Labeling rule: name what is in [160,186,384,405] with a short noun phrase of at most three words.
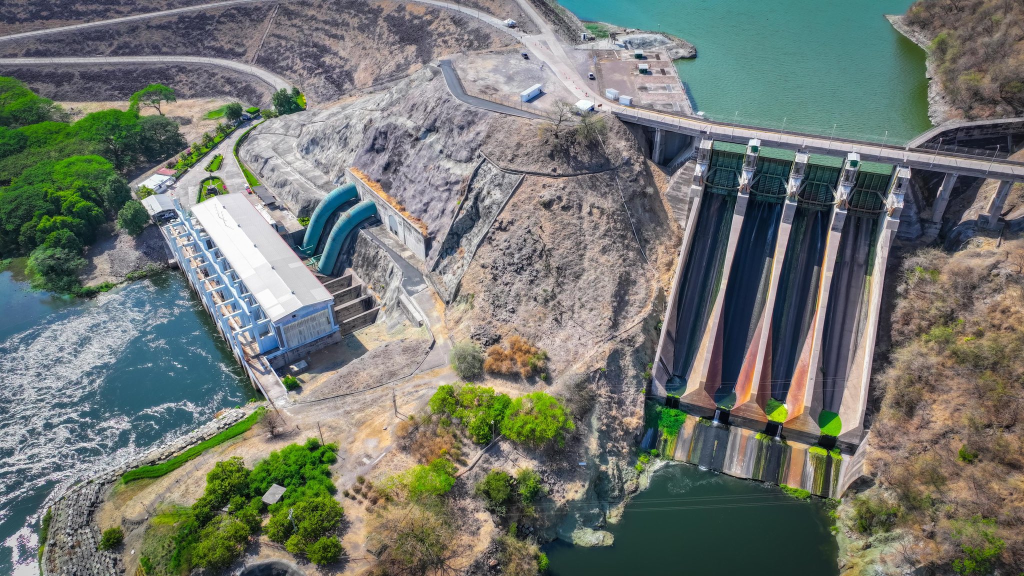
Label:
building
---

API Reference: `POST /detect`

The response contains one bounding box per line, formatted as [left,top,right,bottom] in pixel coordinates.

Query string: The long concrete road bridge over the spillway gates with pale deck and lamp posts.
[610,102,1024,240]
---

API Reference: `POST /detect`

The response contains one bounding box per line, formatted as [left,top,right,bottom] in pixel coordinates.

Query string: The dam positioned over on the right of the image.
[633,142,905,503]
